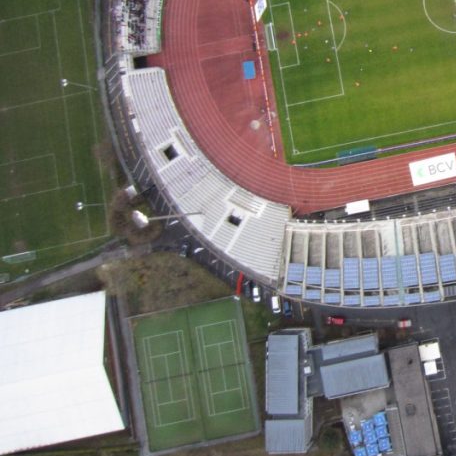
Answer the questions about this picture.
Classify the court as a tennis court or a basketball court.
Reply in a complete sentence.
From above, the court can be identified as a tennis court.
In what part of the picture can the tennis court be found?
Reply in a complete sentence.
The tennis court appears toward the bottom of the photo.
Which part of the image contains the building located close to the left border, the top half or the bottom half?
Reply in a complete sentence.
The building located close to the left border sits in the bottom half of the picture.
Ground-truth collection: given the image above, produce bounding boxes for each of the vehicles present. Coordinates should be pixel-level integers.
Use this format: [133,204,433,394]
[396,319,413,328]
[282,300,292,317]
[253,286,262,303]
[325,316,344,326]
[245,282,253,299]
[270,295,280,314]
